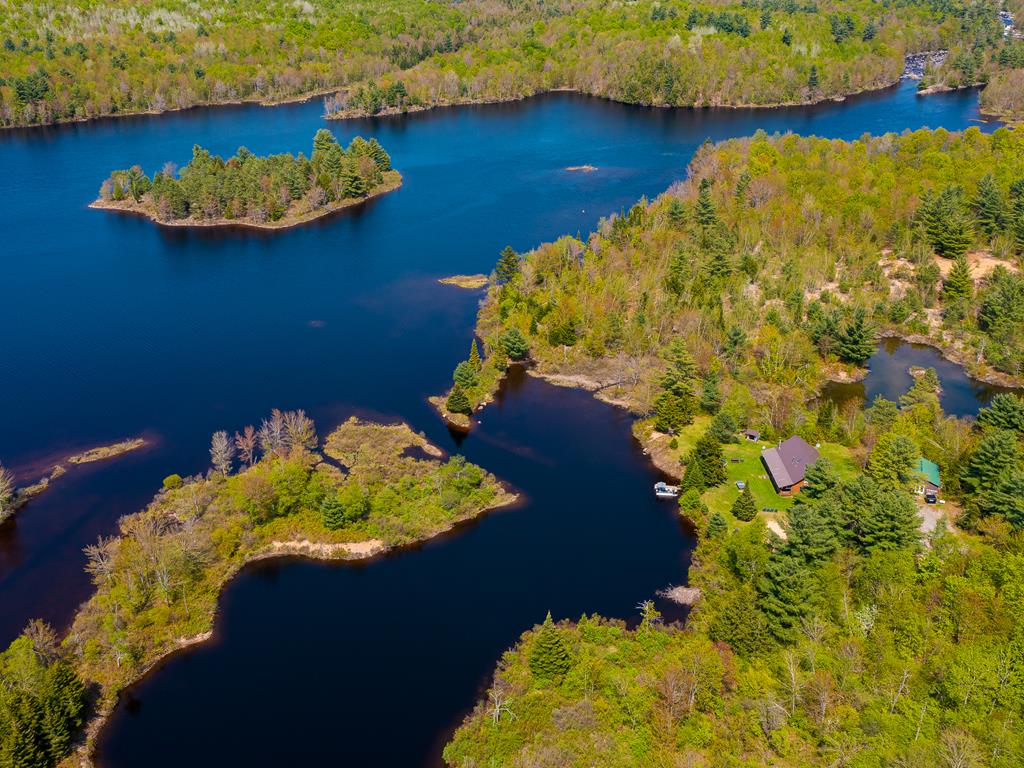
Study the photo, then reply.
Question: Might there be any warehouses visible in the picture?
No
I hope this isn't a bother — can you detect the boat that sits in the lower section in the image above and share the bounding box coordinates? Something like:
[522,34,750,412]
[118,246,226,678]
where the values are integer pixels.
[653,483,676,498]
